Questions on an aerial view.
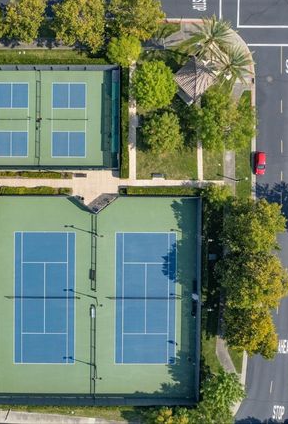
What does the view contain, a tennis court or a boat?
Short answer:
tennis court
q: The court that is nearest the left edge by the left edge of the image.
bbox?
[0,70,41,168]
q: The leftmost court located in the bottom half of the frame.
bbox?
[0,194,94,399]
